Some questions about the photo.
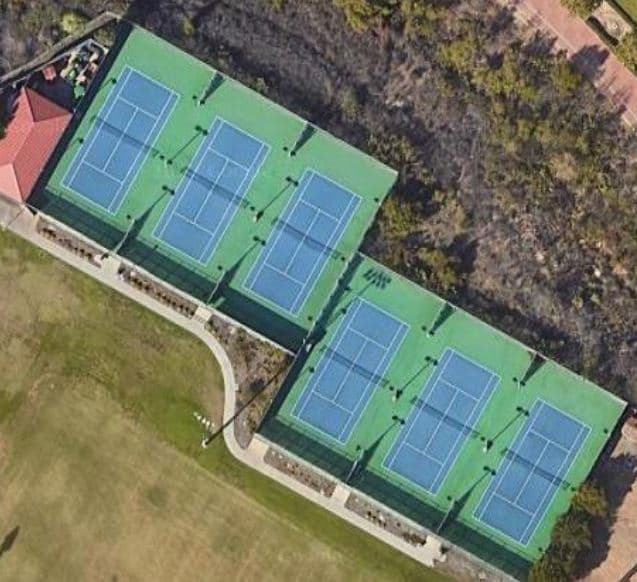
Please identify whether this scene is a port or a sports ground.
sports ground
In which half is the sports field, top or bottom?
bottom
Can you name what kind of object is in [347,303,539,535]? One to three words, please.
tennis court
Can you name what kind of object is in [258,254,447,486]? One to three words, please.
tennis court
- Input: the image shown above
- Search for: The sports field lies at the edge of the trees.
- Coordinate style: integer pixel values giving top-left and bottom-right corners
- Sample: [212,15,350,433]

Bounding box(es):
[0,229,457,582]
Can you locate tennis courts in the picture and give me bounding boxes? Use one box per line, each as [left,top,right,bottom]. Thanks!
[347,303,539,535]
[116,73,309,306]
[258,254,447,486]
[207,123,398,356]
[437,354,627,582]
[29,23,217,256]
